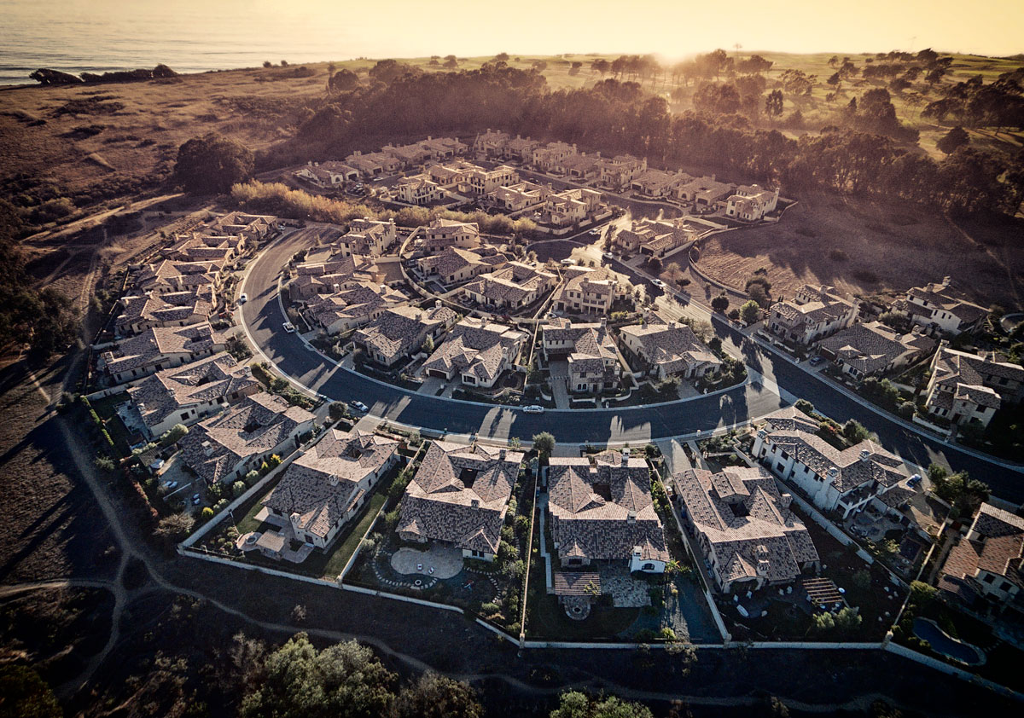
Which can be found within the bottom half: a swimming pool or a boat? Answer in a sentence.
Visible within the bottom half is a swimming pool.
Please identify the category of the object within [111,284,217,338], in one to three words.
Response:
house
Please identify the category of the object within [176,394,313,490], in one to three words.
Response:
house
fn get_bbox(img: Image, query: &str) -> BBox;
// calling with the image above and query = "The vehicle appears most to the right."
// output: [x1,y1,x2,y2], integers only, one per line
[906,474,925,488]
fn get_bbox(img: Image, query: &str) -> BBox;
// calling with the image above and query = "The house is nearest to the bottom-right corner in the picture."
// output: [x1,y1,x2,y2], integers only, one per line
[931,504,1024,621]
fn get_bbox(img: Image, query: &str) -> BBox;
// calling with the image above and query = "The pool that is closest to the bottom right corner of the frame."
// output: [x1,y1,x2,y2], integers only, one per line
[913,614,987,666]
